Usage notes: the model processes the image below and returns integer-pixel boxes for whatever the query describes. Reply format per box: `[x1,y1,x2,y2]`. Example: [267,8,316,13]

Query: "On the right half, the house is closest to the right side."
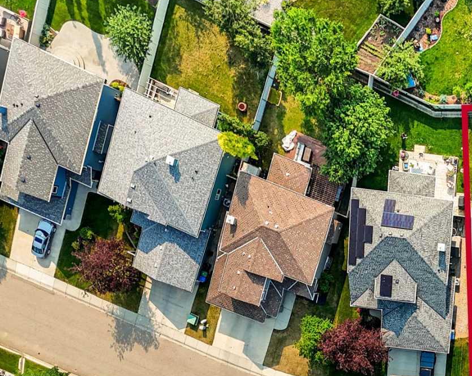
[348,168,456,354]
